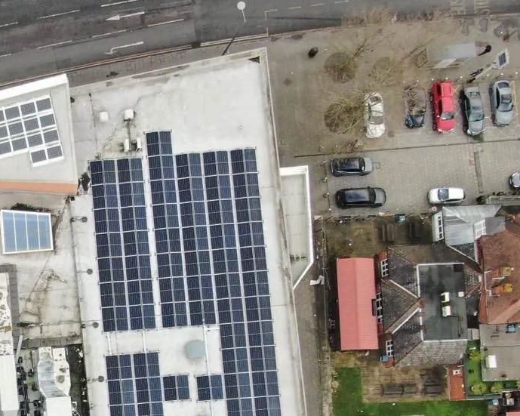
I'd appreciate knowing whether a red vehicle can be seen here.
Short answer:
Yes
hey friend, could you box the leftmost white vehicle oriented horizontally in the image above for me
[424,186,466,205]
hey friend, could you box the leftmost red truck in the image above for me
[430,78,458,133]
